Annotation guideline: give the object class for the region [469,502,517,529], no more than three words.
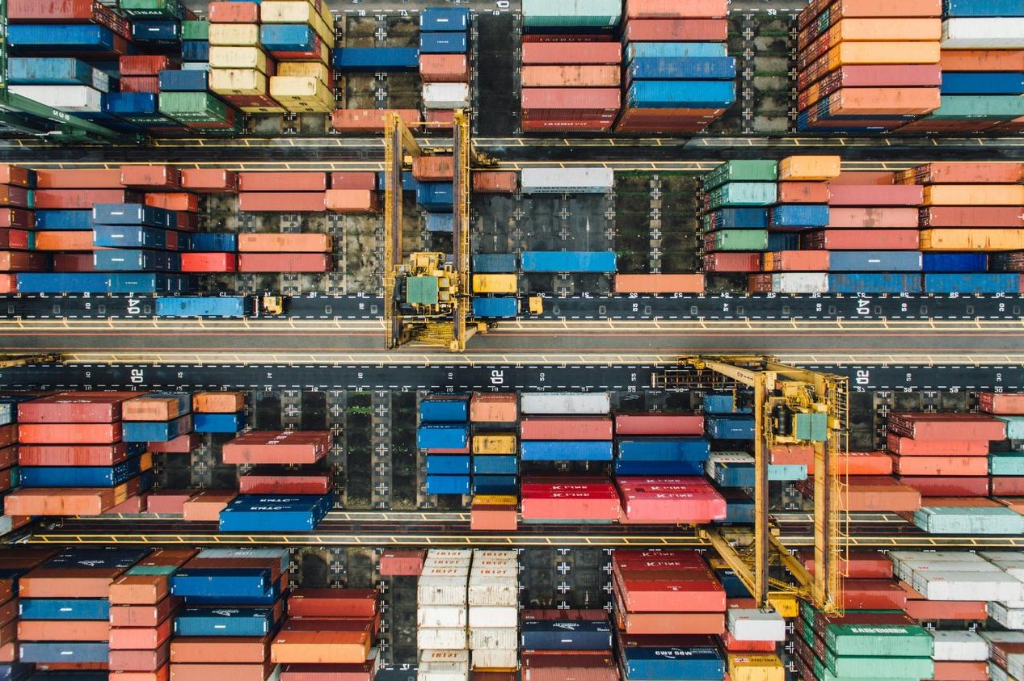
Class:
shipping container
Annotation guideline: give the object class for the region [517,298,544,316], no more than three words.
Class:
vehicle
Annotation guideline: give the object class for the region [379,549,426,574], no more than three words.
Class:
shipping container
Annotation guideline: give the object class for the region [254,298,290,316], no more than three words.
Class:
vehicle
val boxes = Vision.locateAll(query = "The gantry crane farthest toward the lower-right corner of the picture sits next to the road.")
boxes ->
[651,349,847,608]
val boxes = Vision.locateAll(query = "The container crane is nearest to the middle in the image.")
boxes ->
[381,112,504,349]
